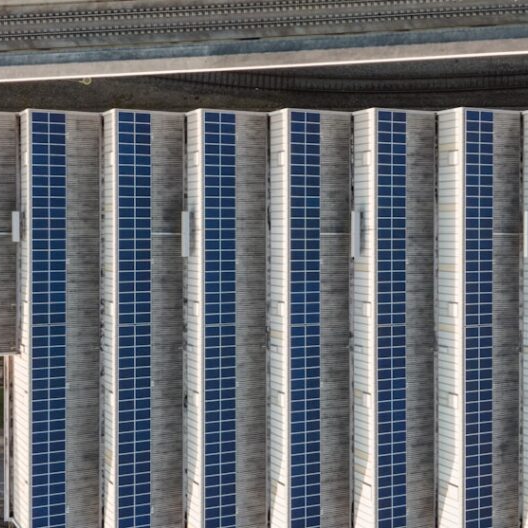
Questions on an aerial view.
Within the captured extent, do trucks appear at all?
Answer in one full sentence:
No, there appears to be no truck in this shot.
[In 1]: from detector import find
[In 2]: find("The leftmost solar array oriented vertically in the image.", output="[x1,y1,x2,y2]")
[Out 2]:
[31,111,69,528]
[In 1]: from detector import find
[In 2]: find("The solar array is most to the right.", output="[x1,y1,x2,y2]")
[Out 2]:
[466,110,521,528]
